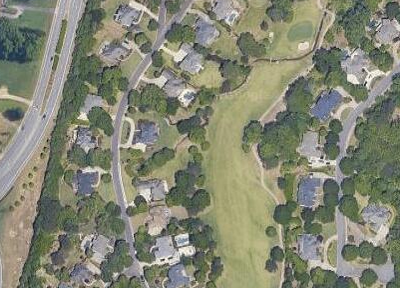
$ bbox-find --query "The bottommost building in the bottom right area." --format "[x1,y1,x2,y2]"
[299,234,321,259]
